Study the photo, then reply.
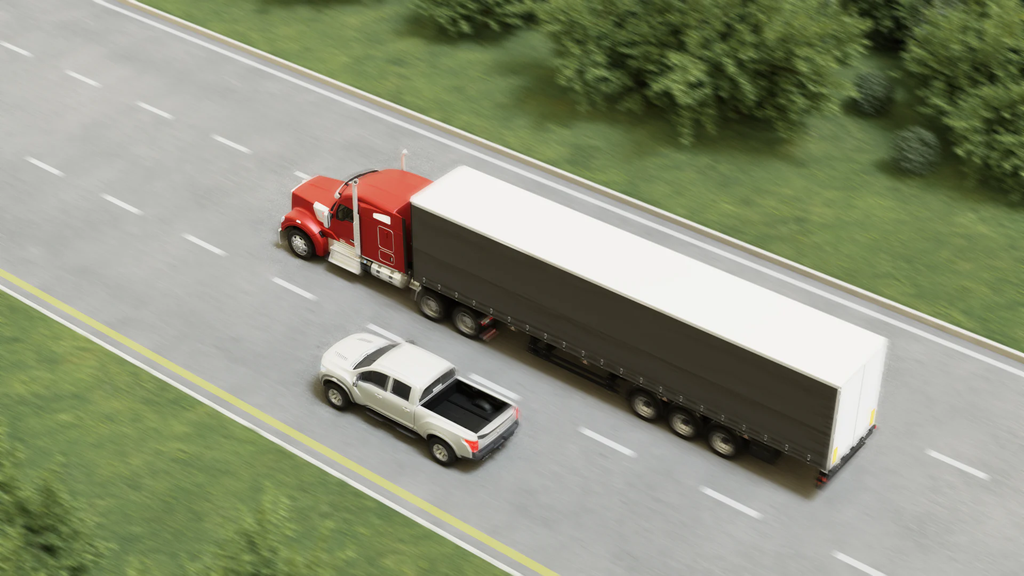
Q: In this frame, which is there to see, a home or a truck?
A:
truck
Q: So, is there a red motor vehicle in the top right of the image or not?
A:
No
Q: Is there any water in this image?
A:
No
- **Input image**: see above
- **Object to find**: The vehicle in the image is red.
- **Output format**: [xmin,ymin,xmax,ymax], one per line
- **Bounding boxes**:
[279,147,499,342]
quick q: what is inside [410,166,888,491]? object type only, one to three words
trailer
